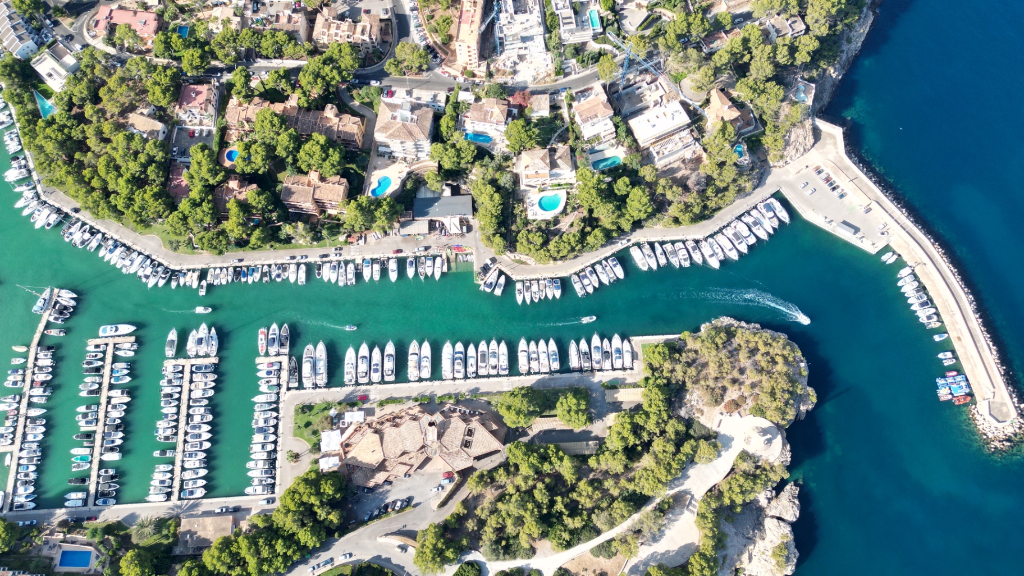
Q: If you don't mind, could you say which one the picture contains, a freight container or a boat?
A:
boat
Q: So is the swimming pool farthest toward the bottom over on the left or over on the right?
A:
left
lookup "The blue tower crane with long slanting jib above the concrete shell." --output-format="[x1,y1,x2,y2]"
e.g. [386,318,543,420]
[610,30,709,129]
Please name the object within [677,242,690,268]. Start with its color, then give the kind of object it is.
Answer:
white boat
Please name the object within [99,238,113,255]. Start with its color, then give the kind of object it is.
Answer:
white boat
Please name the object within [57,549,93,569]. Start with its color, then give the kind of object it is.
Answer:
blue swimming pool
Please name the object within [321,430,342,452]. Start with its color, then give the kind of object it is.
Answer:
white tent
